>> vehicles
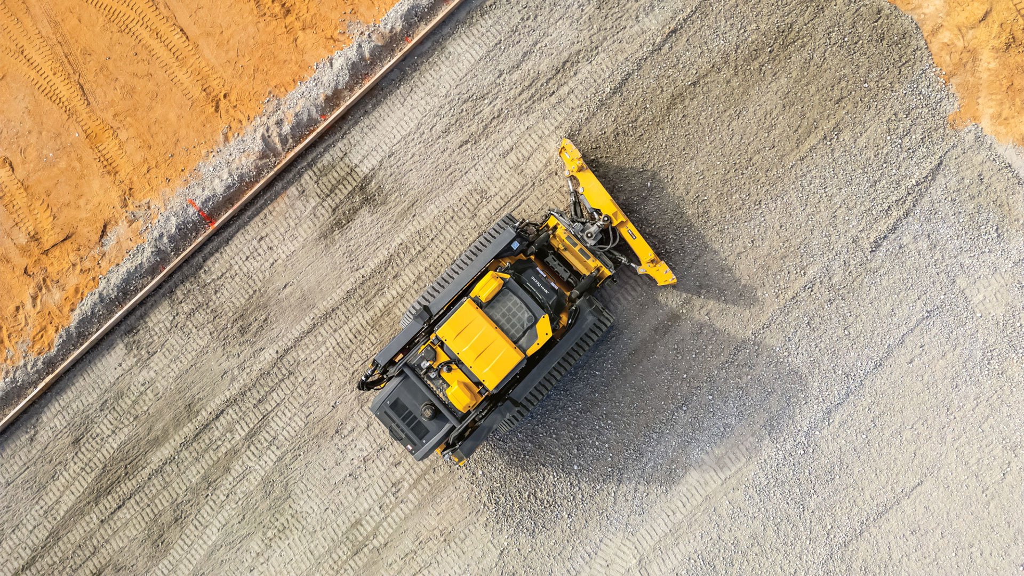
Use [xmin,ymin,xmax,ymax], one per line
[359,139,677,463]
